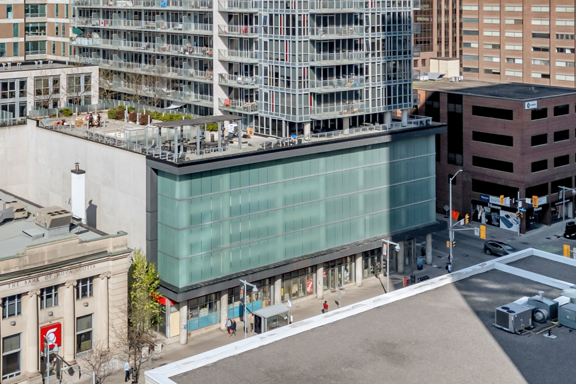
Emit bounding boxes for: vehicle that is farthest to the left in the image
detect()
[473,237,511,256]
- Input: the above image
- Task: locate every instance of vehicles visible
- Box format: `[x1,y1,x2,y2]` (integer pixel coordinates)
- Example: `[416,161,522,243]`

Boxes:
[564,224,576,239]
[473,237,511,256]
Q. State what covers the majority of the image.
buildings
